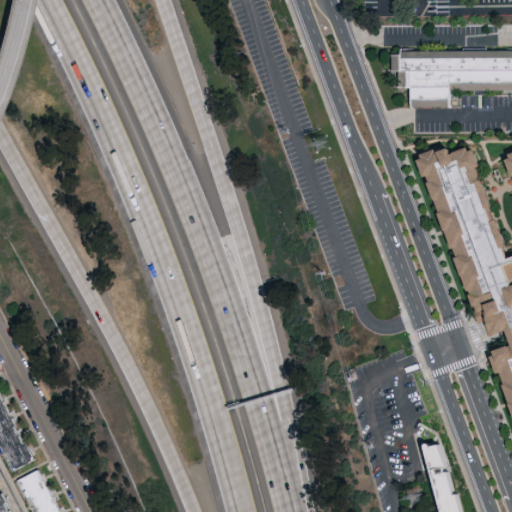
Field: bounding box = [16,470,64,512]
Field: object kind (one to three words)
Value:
building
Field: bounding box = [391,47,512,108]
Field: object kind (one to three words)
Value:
building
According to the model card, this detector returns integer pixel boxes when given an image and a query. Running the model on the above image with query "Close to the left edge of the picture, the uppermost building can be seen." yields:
[0,393,35,468]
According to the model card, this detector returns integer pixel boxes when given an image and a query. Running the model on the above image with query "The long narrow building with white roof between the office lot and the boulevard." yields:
[421,443,467,512]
